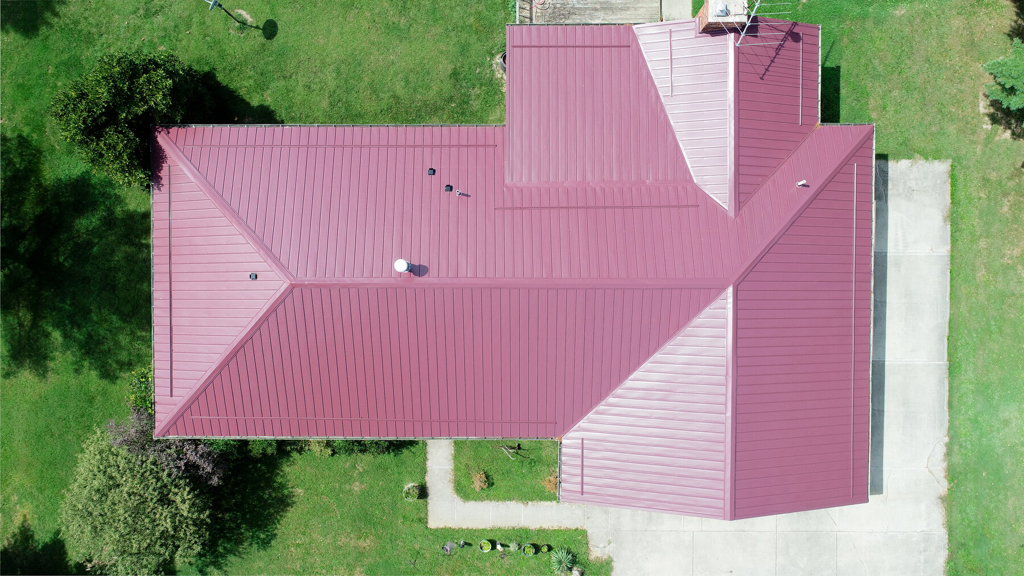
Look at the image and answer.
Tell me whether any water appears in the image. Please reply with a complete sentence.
No, no water is visible.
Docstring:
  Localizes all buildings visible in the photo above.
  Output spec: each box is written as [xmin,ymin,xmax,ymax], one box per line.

[149,13,876,522]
